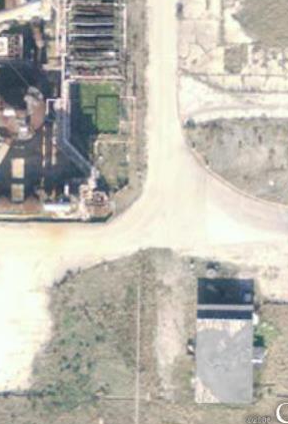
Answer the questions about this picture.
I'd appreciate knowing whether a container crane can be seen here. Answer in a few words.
No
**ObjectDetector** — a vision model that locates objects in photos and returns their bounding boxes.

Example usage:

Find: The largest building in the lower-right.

[198,320,256,405]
